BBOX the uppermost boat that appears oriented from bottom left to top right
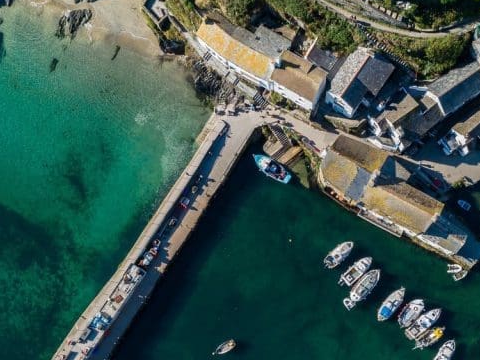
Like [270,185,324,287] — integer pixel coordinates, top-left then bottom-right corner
[323,244,352,269]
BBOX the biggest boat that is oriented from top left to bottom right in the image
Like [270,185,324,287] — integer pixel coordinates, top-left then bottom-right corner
[254,154,293,186]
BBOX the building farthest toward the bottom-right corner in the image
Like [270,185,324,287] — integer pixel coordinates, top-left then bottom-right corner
[423,210,480,264]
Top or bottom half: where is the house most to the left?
top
